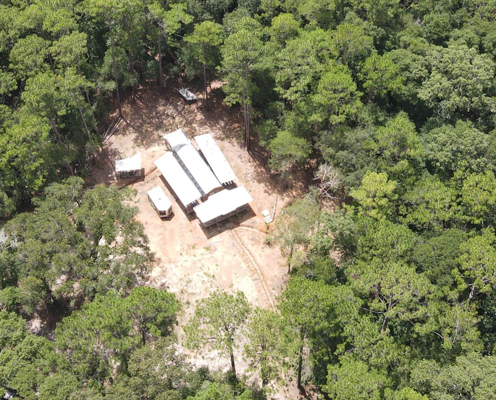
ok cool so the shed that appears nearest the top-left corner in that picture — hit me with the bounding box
[116,151,142,179]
